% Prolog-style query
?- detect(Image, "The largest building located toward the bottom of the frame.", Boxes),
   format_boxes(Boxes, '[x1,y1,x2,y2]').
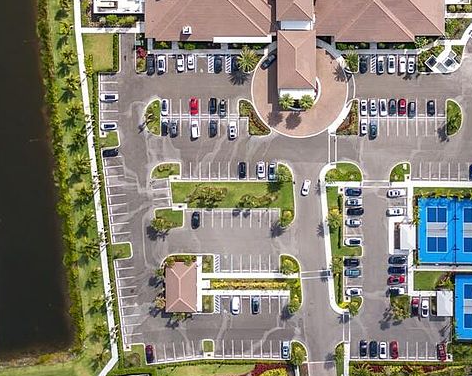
[166,261,198,312]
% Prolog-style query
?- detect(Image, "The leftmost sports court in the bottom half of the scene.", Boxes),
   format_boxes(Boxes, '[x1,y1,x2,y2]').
[419,200,456,265]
